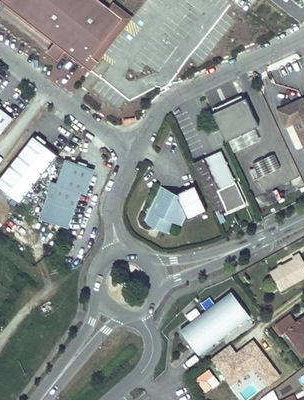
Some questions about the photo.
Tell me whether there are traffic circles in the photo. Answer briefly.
Yes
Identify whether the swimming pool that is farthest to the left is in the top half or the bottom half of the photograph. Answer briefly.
bottom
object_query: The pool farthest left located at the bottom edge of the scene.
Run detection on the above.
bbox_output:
[230,370,268,400]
